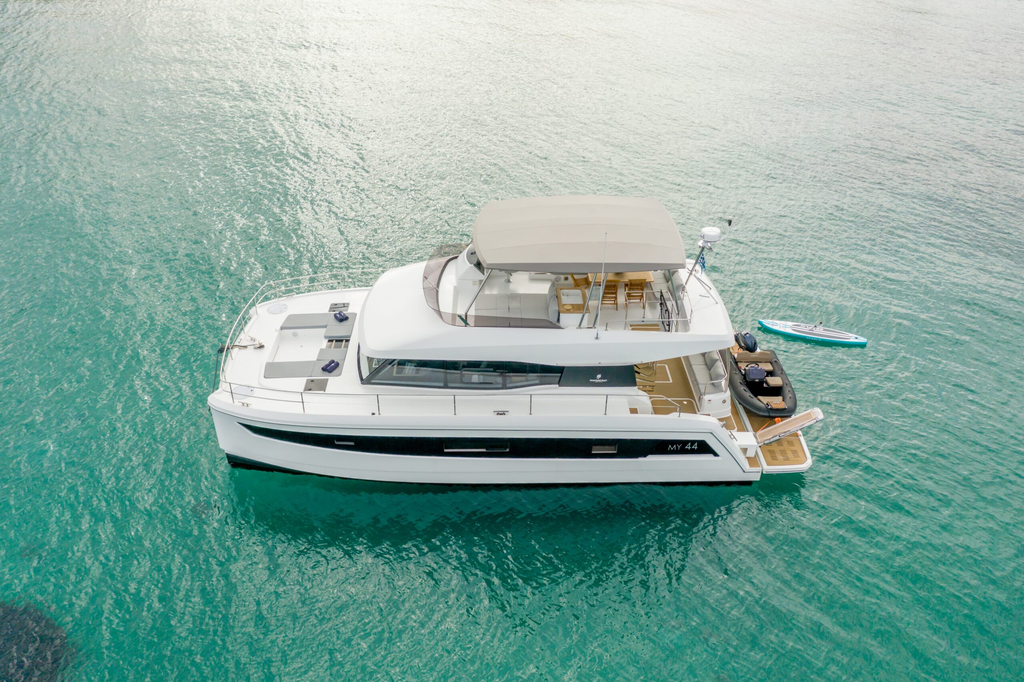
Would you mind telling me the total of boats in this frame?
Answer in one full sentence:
The photo contains 2 boats.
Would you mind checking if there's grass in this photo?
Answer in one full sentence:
No, grass can't be seen anywhere here.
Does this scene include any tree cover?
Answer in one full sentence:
No, the picture contains no tree cover.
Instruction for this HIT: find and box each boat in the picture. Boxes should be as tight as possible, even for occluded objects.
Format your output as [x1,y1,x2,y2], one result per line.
[719,322,799,420]
[207,199,812,485]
